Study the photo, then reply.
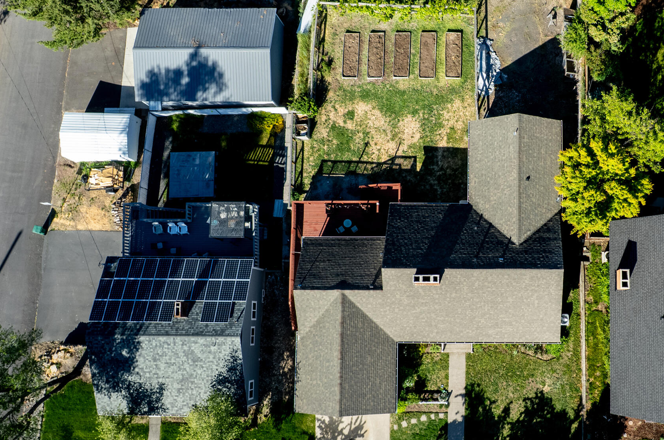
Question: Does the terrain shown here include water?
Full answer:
No, no water is visible.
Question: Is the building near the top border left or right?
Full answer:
You can find the building near the top border on the left side of the picture.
